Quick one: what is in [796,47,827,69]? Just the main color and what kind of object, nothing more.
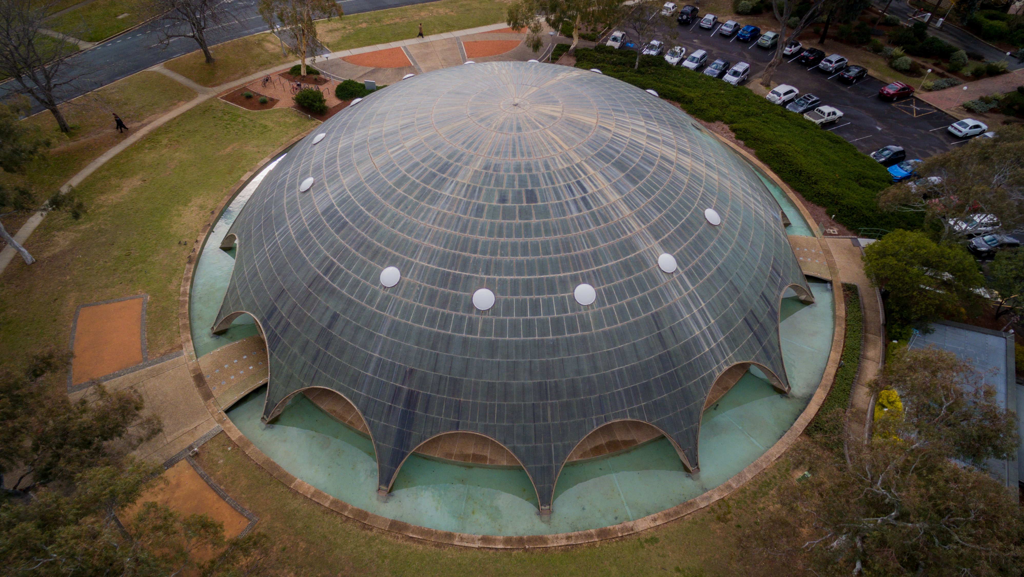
black car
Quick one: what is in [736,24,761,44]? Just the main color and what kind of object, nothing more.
blue car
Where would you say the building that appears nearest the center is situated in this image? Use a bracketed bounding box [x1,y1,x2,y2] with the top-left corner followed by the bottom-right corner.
[200,59,825,531]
